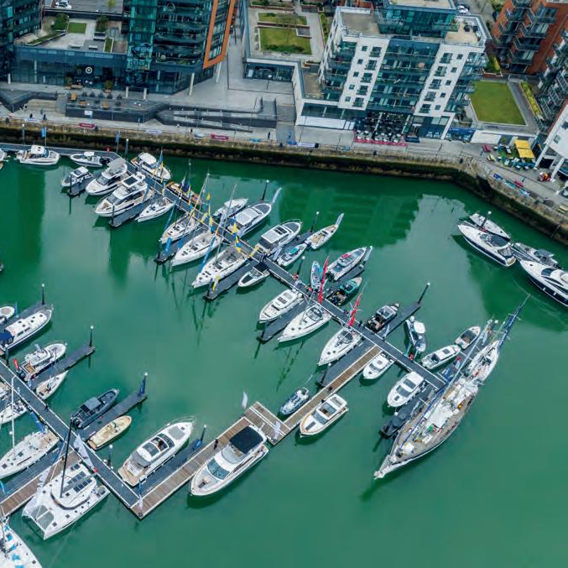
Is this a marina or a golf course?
marina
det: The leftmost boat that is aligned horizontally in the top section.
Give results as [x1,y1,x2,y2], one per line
[16,148,59,166]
